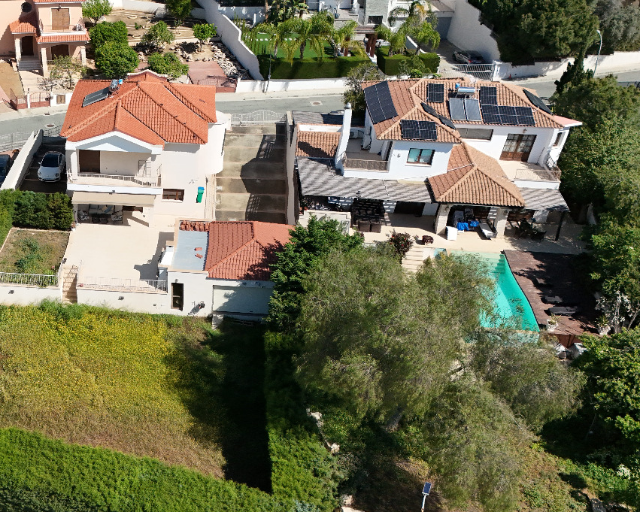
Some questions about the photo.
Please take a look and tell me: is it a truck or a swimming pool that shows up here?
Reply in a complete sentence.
Visible in the photo is a swimming pool.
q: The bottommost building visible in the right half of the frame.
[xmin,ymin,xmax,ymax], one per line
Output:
[292,79,585,241]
